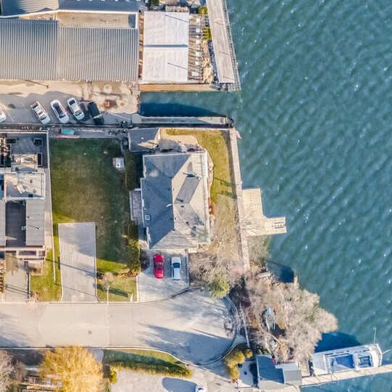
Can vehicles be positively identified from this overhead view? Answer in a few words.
Yes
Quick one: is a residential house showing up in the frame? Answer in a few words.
Yes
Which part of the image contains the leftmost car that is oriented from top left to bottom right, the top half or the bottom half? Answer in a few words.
top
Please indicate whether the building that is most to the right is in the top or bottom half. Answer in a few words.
bottom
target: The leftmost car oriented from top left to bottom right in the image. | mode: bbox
[30,101,49,125]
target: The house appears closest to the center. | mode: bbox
[140,151,212,255]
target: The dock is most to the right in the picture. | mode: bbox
[301,364,392,385]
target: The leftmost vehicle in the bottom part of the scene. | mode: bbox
[153,255,166,278]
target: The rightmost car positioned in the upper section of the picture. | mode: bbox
[86,101,105,125]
